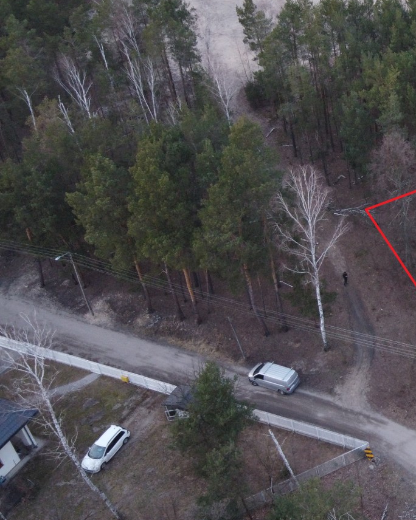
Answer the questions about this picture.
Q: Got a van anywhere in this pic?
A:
Yes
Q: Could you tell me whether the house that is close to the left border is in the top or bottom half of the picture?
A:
bottom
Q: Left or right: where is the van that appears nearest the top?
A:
right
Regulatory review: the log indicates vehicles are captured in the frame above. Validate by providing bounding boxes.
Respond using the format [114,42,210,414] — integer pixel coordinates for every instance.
[81,423,129,469]
[244,367,299,401]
